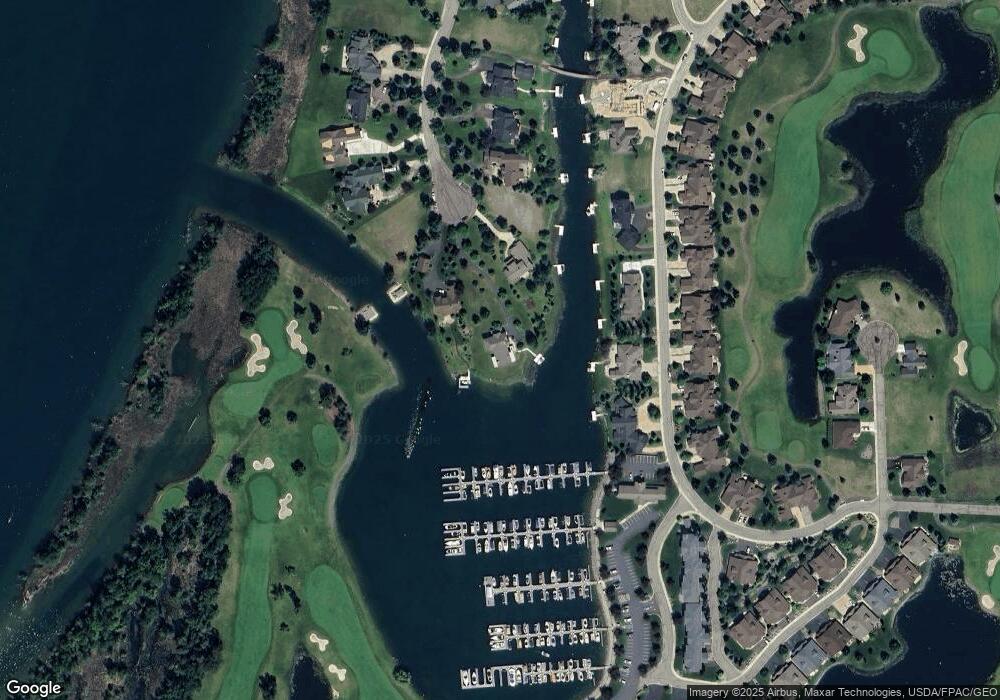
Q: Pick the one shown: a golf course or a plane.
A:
golf course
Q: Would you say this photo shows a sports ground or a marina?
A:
marina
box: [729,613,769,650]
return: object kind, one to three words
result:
house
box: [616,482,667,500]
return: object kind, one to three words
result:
building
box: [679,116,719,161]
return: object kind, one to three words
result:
house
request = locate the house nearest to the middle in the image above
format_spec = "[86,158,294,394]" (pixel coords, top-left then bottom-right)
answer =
[481,328,516,369]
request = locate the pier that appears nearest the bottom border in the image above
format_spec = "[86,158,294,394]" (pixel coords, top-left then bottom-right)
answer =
[460,659,611,689]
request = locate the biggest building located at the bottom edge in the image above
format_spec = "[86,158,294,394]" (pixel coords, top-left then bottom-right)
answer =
[680,534,713,669]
